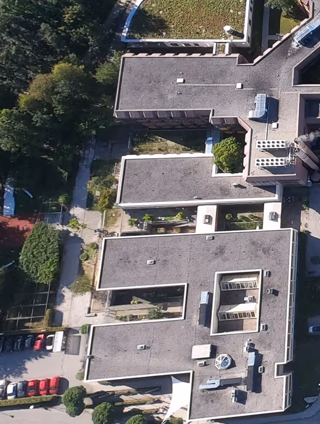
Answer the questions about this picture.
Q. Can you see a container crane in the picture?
No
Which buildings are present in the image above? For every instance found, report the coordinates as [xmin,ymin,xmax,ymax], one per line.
[85,229,304,422]
[115,0,320,185]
